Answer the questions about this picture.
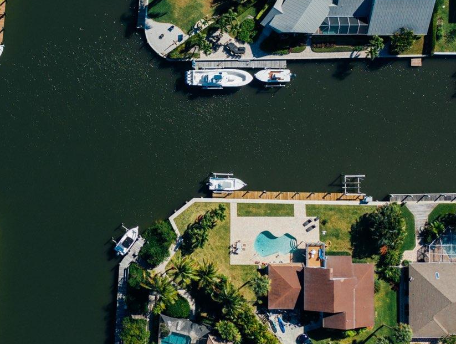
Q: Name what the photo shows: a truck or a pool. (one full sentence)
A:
This aerial view contains a pool.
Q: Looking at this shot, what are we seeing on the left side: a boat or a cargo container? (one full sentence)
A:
You can see a boat on the left side.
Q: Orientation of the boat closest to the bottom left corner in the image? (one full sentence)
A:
The boat closest to the bottom left corner runs diagonally in the image.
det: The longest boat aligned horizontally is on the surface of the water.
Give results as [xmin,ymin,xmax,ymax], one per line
[186,70,254,86]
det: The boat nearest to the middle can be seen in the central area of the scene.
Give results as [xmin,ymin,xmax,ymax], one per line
[207,178,248,191]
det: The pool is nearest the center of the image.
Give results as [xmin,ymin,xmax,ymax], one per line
[252,230,298,258]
